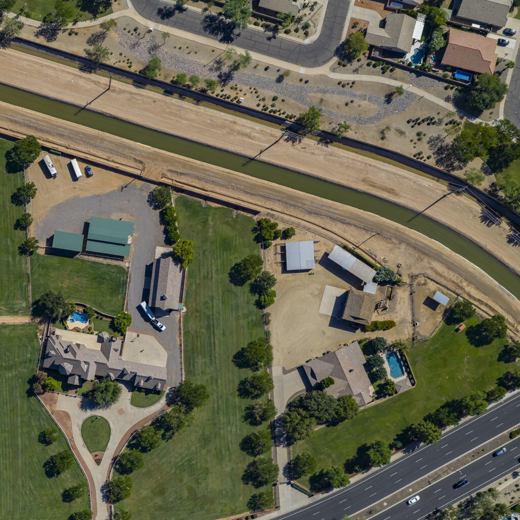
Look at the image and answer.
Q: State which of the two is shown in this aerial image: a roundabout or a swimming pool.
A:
swimming pool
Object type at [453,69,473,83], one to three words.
swimming pool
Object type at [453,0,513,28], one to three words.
house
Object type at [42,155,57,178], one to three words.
camper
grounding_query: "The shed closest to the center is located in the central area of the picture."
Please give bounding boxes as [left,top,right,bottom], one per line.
[284,241,314,270]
